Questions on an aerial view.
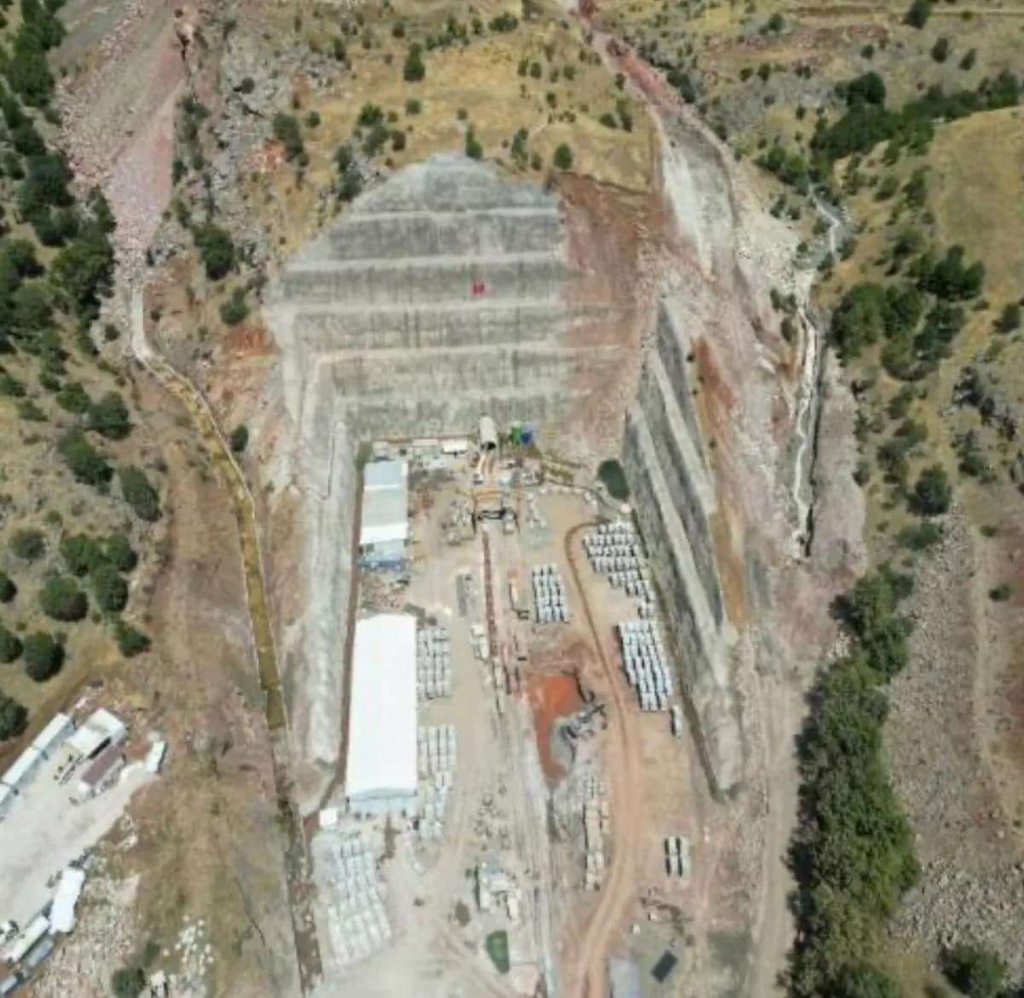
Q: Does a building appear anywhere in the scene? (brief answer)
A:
Yes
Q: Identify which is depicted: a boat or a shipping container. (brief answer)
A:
shipping container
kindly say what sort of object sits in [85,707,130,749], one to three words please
shed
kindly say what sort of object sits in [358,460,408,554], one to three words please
building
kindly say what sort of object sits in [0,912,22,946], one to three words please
truck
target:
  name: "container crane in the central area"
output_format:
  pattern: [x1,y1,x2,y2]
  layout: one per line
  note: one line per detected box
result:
[466,492,521,532]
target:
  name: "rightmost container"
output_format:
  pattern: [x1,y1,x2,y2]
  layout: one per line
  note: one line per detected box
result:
[652,951,677,984]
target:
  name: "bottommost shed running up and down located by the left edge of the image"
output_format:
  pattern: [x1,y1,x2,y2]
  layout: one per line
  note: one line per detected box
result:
[48,866,90,938]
